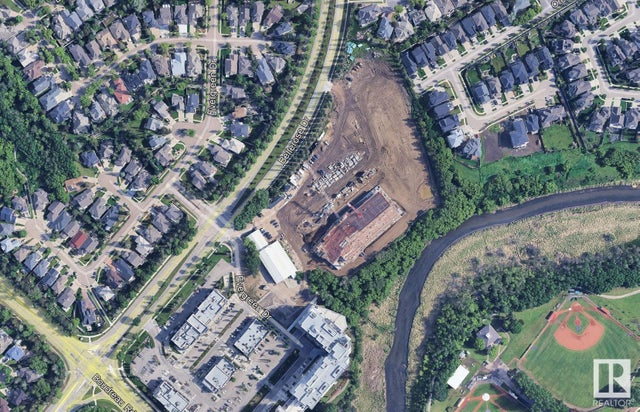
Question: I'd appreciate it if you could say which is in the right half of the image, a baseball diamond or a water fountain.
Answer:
baseball diamond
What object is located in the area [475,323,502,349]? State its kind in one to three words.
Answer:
building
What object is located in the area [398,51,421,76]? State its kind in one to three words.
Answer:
house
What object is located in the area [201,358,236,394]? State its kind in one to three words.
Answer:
building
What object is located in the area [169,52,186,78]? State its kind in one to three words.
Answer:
house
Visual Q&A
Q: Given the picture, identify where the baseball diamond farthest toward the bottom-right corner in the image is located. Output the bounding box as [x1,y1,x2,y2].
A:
[519,293,640,410]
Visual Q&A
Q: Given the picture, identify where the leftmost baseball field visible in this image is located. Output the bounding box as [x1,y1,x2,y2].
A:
[454,382,526,412]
